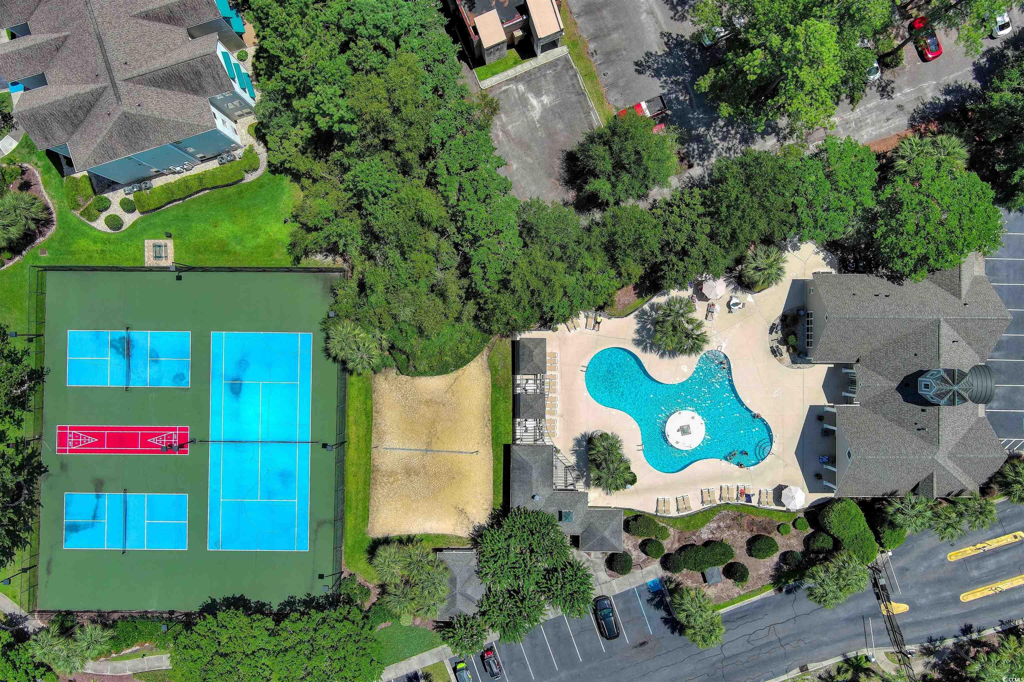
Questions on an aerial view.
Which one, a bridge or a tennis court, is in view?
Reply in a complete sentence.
The one in the frame is a tennis court.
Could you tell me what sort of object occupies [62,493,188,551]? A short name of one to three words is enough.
sports court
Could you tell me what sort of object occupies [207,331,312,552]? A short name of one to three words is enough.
tennis court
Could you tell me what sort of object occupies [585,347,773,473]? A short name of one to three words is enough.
swimming pool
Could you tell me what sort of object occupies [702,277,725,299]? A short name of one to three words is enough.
umbrella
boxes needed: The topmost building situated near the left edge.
[0,0,256,183]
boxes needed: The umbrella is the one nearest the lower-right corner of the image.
[781,486,805,509]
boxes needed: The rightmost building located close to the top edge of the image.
[453,0,563,64]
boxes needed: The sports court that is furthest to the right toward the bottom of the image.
[367,339,496,539]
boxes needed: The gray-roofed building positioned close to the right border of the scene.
[805,247,1013,504]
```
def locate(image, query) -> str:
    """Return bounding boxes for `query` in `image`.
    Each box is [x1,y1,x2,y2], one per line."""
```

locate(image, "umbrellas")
[702,277,725,299]
[781,486,805,509]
